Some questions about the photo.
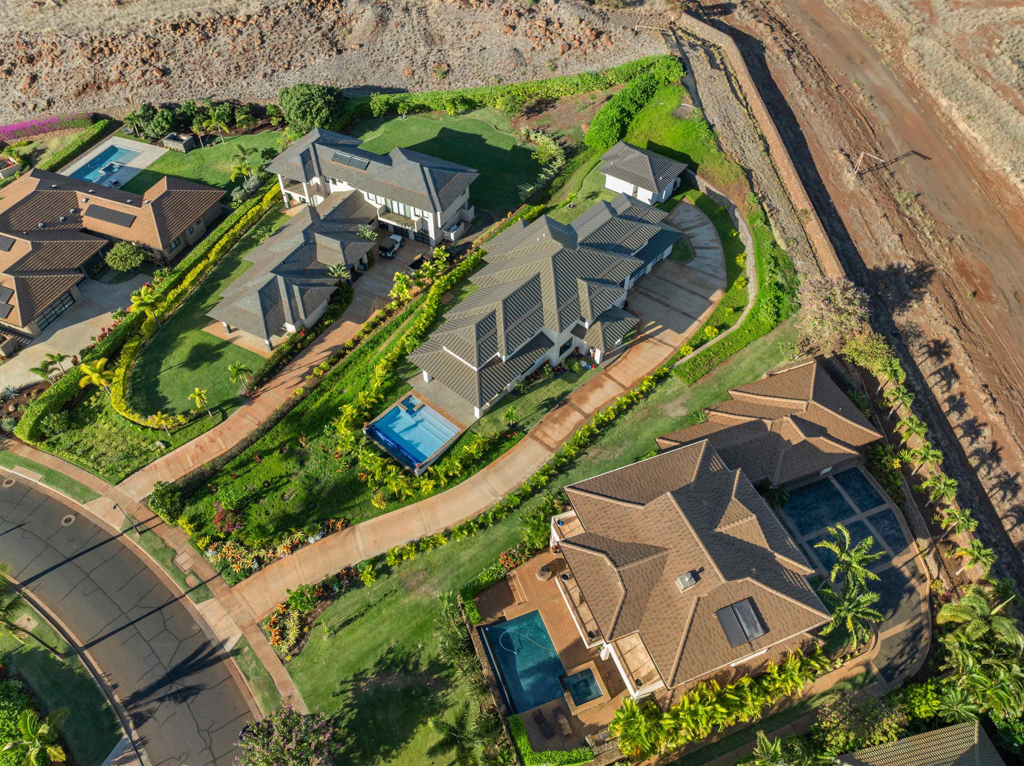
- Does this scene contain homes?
Yes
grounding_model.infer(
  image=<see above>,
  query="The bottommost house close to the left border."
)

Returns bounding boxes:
[0,168,227,340]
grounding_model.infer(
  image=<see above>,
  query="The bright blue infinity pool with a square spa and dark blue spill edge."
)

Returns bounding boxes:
[357,390,468,477]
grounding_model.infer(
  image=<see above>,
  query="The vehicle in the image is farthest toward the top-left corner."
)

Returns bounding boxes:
[377,236,404,257]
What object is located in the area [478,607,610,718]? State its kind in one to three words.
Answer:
swimming pool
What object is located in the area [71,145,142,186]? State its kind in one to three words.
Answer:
swimming pool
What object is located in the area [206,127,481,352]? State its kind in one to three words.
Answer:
house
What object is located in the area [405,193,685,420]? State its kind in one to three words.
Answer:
house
